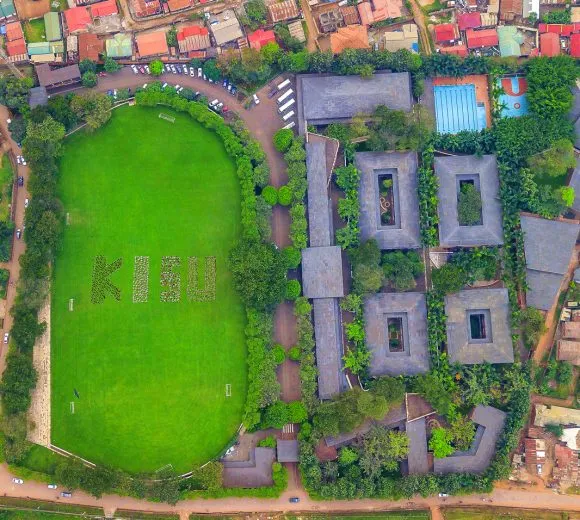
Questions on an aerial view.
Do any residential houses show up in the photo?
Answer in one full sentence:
Yes, a residential house can be made out from above.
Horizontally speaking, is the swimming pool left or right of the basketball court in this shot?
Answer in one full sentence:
To the left of the basketball court is where the swimming pool appears.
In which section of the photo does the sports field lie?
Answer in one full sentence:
The sports field sits in the left section of the image.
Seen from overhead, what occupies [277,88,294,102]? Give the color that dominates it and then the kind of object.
white vehicle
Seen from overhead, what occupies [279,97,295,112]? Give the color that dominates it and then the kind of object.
white vehicle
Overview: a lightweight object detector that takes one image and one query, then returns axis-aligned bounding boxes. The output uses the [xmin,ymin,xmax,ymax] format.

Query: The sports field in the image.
[49,100,253,481]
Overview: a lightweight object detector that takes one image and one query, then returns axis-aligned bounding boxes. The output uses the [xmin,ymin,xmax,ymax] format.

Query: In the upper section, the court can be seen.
[497,75,534,119]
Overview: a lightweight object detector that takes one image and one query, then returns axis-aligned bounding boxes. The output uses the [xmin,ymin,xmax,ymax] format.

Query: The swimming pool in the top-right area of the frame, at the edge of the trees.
[432,74,490,137]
